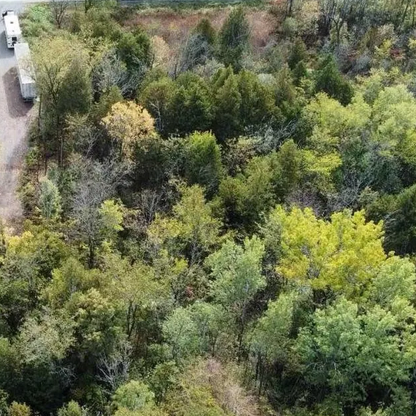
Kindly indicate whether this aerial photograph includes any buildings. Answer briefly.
No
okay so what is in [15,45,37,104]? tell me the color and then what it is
white trailer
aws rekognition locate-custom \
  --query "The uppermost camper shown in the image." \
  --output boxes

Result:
[2,16,21,49]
